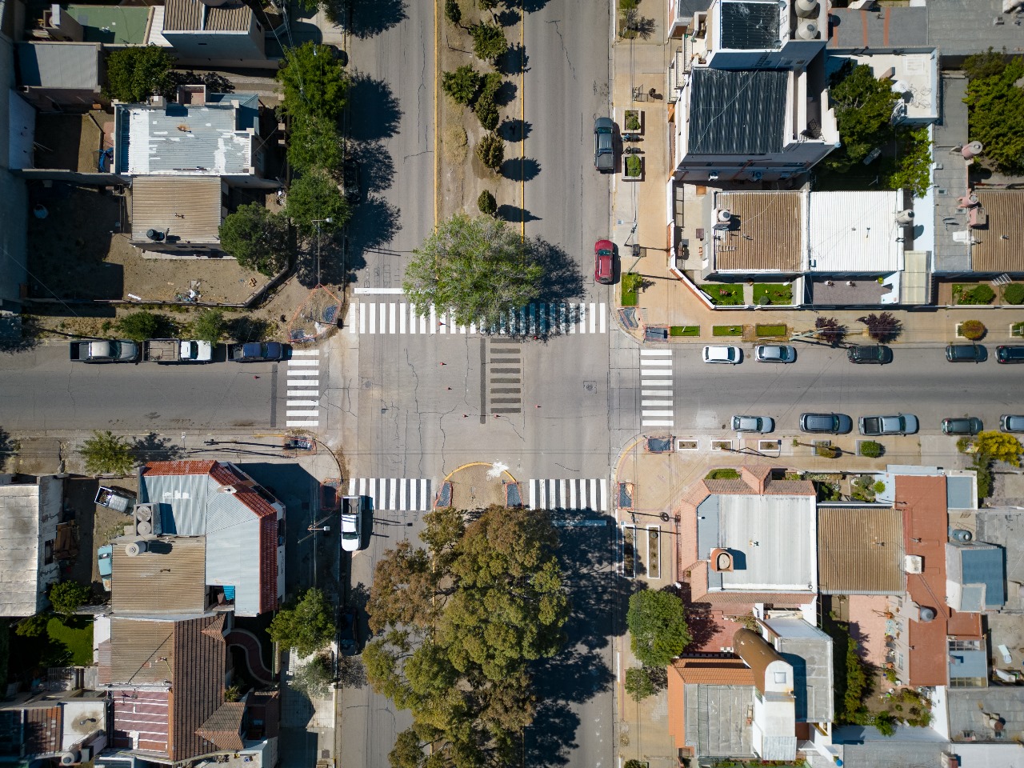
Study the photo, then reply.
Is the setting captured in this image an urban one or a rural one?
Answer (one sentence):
This place is urban.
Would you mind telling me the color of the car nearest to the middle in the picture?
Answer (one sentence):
The car nearest to the middle looks red in the image.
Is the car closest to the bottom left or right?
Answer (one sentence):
It is on the left.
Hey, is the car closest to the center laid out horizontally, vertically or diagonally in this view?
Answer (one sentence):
I'd say the car closest to the center is aligned vertically in the picture.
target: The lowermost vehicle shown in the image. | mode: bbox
[338,599,359,654]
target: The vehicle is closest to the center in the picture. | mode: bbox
[593,240,616,285]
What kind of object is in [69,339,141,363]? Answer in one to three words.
truck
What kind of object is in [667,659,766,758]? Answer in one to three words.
house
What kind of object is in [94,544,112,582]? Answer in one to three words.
car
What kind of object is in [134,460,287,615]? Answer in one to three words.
house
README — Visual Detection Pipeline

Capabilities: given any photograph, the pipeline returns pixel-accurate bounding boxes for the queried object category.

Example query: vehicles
[90,482,140,516]
[856,412,918,437]
[339,494,364,551]
[844,342,892,365]
[942,342,986,364]
[593,240,616,285]
[700,344,741,365]
[69,339,141,363]
[797,411,852,436]
[343,155,362,202]
[143,338,215,364]
[753,344,794,364]
[729,414,774,435]
[226,340,285,362]
[623,143,644,152]
[938,415,982,437]
[338,599,359,654]
[94,544,112,582]
[594,118,616,174]
[996,414,1024,433]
